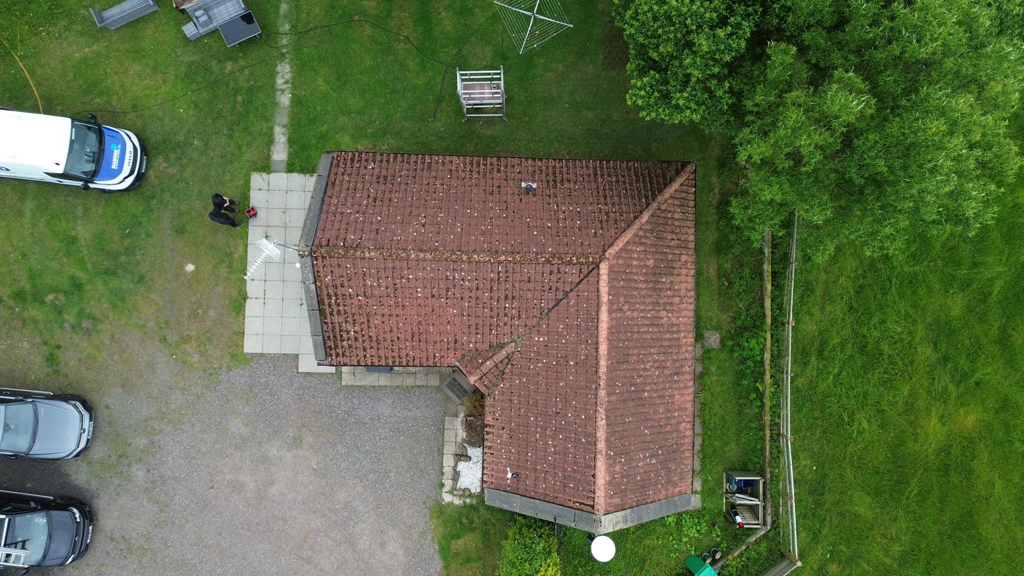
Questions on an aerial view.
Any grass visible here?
Yes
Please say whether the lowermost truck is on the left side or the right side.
left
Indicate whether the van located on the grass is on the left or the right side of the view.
left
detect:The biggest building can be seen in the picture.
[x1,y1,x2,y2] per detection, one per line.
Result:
[298,152,697,533]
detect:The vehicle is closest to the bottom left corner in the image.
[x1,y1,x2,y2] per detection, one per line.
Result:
[0,488,95,576]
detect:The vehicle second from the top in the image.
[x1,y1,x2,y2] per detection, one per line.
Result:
[0,385,95,467]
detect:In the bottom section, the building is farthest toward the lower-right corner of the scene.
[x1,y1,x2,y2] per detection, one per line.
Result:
[723,469,764,526]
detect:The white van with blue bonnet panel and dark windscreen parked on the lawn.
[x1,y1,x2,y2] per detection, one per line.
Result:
[0,106,147,194]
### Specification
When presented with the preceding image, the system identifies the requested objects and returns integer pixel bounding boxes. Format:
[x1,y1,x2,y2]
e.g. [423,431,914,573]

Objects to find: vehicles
[0,385,95,467]
[0,106,147,194]
[0,488,95,576]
